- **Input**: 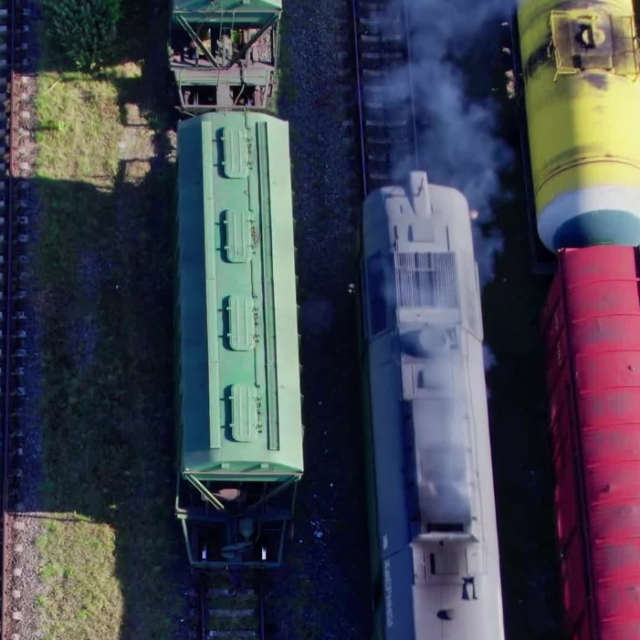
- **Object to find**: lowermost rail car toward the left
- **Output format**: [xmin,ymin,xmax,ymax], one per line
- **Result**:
[168,113,306,582]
